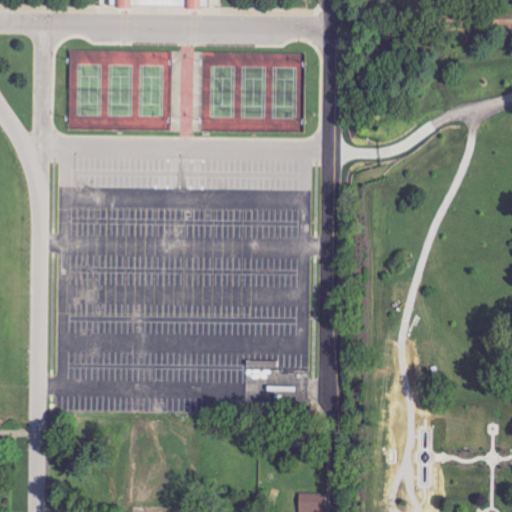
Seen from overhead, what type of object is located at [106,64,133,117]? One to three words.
tennis court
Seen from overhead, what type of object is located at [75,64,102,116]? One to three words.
tennis court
